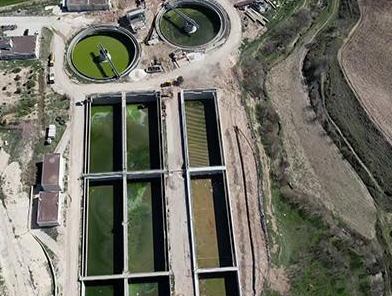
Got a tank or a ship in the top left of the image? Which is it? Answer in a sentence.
The one visible in the top left of the image is a tank.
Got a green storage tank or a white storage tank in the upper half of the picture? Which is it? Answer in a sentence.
What appears in the upper half of the picture is a green storage tank.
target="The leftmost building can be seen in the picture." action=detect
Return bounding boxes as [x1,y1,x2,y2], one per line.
[0,34,40,62]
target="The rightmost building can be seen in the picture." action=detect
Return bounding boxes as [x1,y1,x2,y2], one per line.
[125,10,149,35]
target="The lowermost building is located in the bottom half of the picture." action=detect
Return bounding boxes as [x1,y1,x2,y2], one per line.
[37,192,62,228]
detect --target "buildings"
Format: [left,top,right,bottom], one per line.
[37,192,62,228]
[125,10,149,35]
[0,34,40,62]
[41,154,63,191]
[62,0,111,12]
